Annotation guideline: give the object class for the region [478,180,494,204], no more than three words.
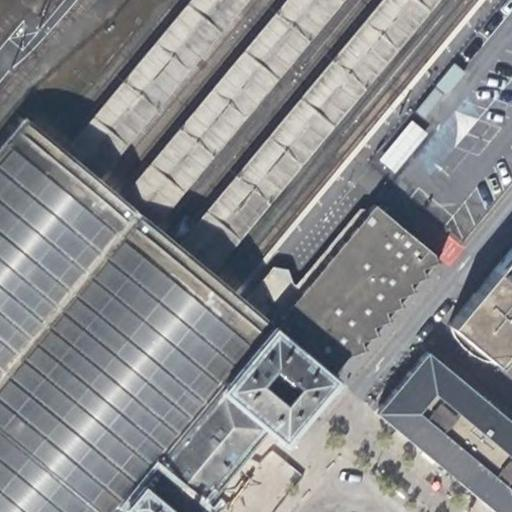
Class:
car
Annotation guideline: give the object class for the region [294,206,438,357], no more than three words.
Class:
building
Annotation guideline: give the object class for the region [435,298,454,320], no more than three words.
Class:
car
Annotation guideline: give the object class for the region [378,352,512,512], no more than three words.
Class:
building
